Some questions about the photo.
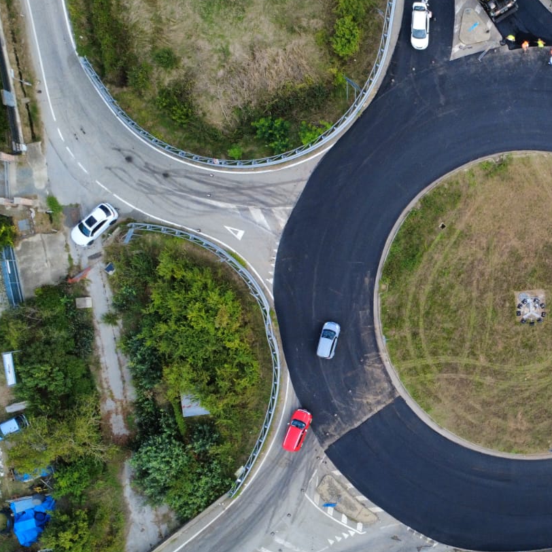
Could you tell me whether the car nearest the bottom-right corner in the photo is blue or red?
red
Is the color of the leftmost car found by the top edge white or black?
white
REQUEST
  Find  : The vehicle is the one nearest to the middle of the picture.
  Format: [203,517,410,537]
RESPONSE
[316,322,341,360]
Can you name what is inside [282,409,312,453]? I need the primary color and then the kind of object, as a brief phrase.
red car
